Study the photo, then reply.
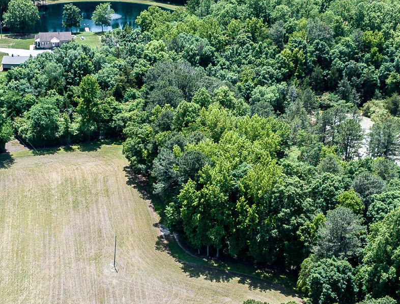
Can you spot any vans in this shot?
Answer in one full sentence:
No, I can't see a single van in this photo.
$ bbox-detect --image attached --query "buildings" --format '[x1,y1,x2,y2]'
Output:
[33,31,72,49]
[1,56,42,71]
